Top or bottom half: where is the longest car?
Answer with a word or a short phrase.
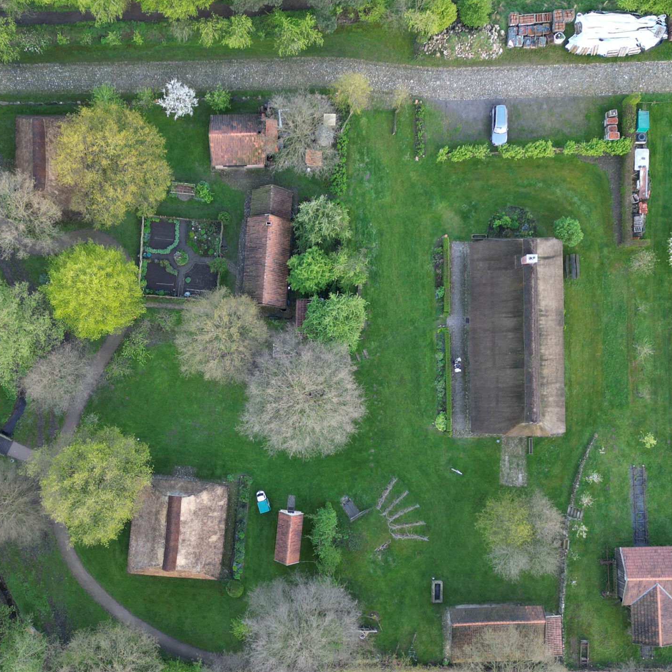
top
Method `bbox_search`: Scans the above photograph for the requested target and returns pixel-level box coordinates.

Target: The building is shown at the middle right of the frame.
[469,229,565,436]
